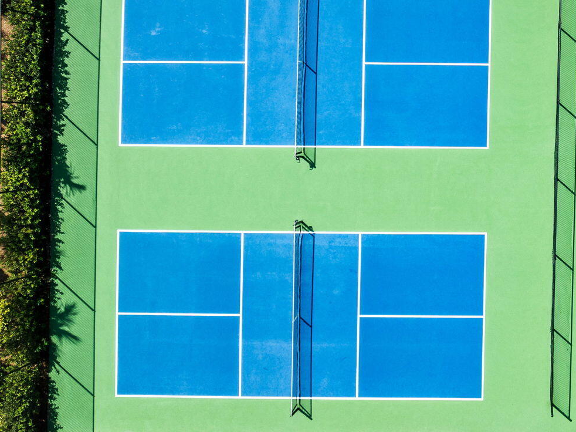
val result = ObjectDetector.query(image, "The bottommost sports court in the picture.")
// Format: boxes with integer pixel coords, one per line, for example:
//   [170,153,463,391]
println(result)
[115,230,484,400]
